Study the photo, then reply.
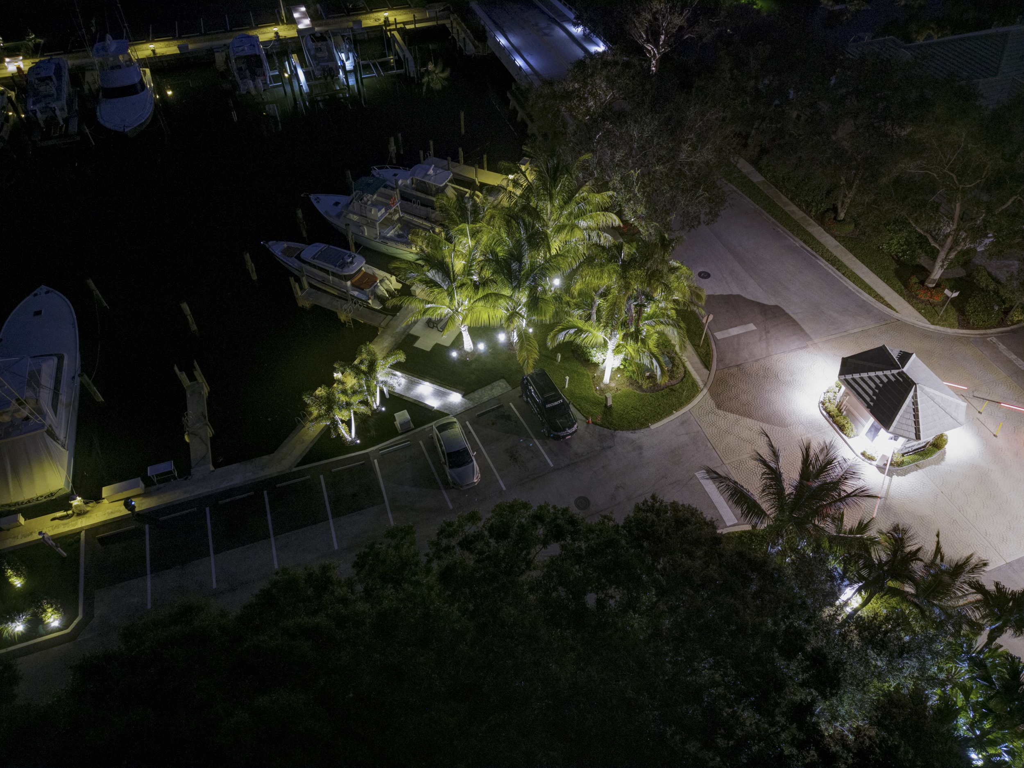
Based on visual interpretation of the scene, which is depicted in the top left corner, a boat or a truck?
boat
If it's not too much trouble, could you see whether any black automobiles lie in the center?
Yes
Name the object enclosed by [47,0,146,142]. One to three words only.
boat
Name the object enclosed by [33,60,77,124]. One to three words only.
boat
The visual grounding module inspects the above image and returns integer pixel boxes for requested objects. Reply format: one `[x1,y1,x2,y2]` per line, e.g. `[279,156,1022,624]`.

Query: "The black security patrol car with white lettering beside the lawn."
[515,369,583,445]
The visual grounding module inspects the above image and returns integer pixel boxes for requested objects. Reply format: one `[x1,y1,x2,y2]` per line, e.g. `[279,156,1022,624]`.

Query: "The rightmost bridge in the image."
[468,0,641,101]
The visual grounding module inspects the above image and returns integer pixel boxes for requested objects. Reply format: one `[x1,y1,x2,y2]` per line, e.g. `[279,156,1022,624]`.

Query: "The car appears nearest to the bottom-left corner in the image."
[424,417,487,498]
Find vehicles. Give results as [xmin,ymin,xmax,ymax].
[424,417,487,498]
[515,369,583,445]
